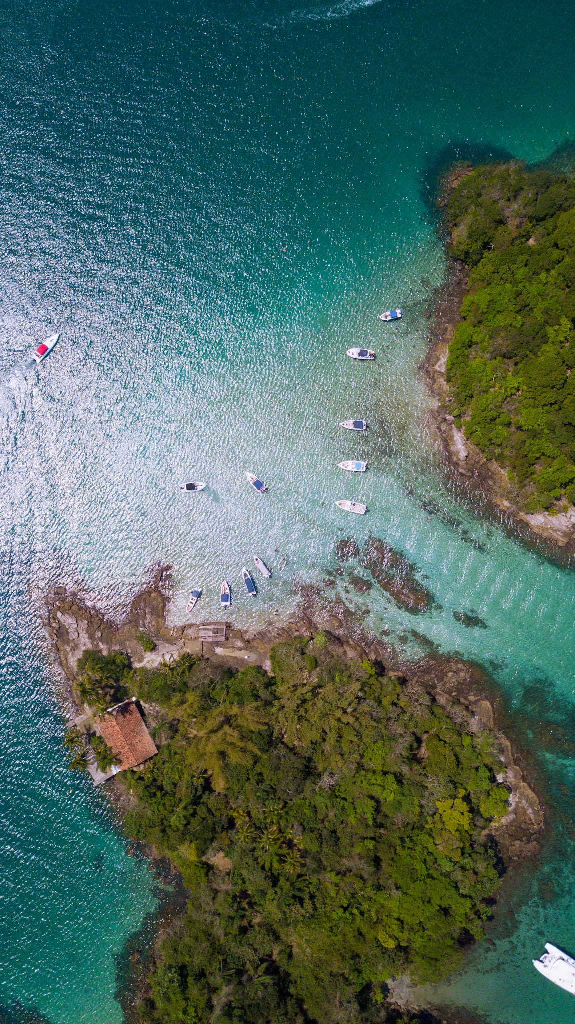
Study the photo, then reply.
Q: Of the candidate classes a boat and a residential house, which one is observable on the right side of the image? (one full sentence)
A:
The feature located on the right side of the image is a boat.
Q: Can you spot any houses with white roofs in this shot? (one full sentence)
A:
No, I can't see a single house with a white roof in this photo.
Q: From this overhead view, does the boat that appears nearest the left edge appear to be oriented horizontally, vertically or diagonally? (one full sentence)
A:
Seen from above, the boat that appears nearest the left edge lies diagonally.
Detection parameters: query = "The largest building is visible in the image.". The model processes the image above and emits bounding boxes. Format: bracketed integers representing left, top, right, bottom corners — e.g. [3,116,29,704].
[95,694,158,770]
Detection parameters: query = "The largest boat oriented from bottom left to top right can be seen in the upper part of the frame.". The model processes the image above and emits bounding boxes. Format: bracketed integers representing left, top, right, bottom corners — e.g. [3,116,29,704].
[30,334,59,366]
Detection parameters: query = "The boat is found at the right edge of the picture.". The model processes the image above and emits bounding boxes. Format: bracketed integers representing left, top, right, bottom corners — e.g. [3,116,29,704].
[533,938,575,1001]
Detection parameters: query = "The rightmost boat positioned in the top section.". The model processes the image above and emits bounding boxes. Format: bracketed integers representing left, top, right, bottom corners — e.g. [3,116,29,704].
[380,307,404,320]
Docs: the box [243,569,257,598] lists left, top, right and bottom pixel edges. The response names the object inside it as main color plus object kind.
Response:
blue boat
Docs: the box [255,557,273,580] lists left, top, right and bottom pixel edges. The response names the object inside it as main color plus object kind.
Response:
white boat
